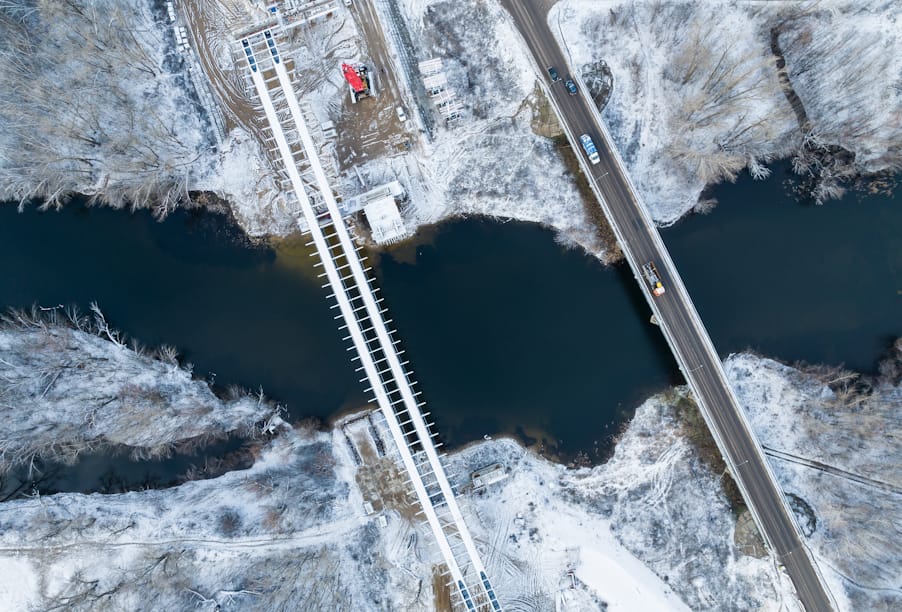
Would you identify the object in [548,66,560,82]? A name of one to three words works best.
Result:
vehicle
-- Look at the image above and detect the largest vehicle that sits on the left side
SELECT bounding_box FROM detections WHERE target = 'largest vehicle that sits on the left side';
[343,64,375,103]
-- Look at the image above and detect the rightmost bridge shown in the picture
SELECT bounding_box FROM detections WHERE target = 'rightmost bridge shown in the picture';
[544,73,810,558]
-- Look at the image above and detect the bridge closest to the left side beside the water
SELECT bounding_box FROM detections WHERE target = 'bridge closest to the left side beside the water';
[226,24,507,612]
